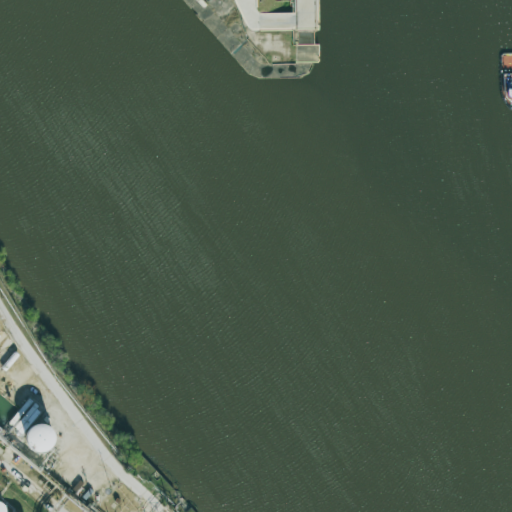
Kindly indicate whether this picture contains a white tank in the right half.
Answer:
No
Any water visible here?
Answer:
Yes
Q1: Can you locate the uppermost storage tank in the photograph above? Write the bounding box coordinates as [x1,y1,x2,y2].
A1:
[27,423,58,455]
